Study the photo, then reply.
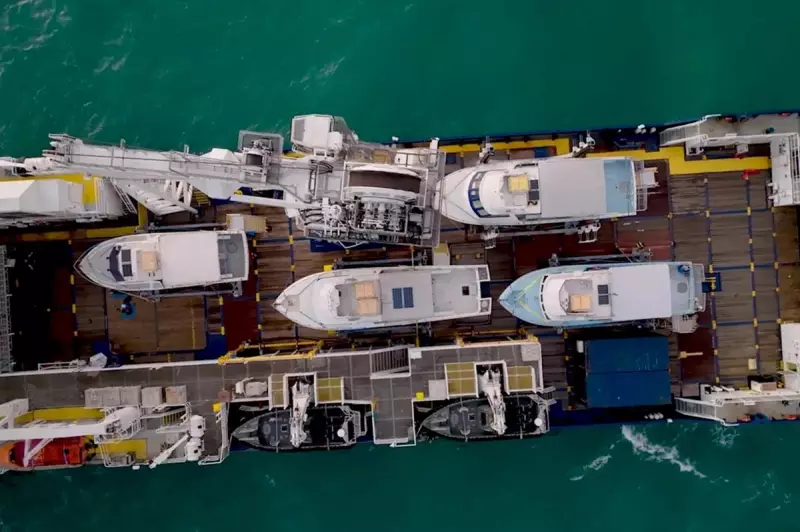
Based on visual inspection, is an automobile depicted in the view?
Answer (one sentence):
No, there's no automobile here.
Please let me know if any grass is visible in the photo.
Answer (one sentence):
No, grass can't be seen anywhere here.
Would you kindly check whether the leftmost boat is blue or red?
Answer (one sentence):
The leftmost boat looks red in the image.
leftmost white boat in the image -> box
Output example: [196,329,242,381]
[70,230,255,300]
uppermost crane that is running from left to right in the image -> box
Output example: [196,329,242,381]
[0,113,448,252]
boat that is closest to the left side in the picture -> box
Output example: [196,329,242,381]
[0,437,98,470]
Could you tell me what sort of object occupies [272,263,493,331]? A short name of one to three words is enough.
boat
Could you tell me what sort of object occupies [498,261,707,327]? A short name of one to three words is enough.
boat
